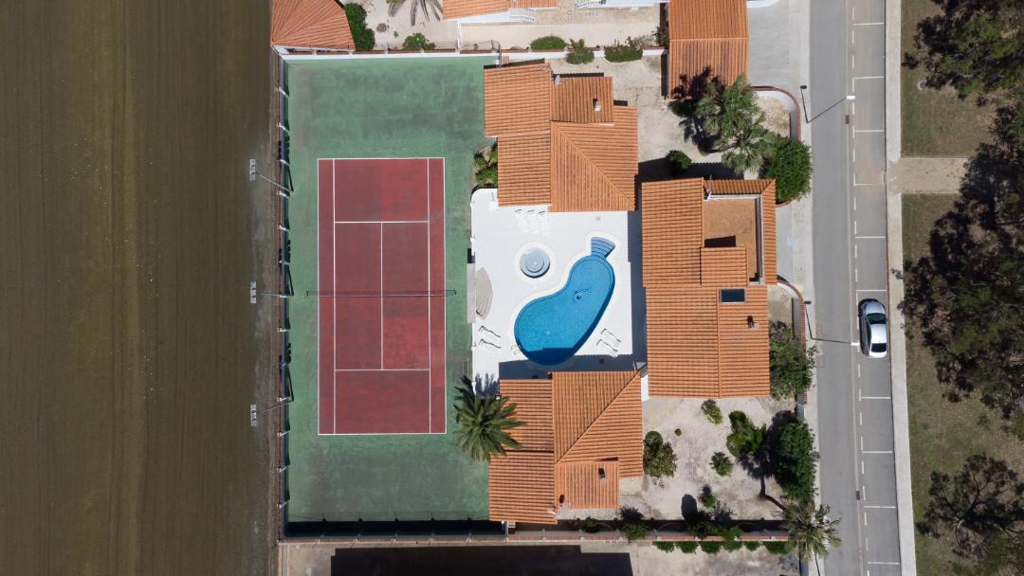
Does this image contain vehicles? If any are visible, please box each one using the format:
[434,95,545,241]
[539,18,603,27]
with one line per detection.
[861,303,890,357]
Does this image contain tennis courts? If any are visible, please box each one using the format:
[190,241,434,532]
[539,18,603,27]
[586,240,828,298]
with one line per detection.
[287,59,499,531]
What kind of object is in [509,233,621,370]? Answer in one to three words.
swimming pool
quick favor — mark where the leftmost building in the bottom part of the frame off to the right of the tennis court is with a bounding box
[488,371,645,526]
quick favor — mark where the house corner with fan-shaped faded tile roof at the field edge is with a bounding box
[272,0,356,51]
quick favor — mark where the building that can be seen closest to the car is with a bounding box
[642,177,779,398]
